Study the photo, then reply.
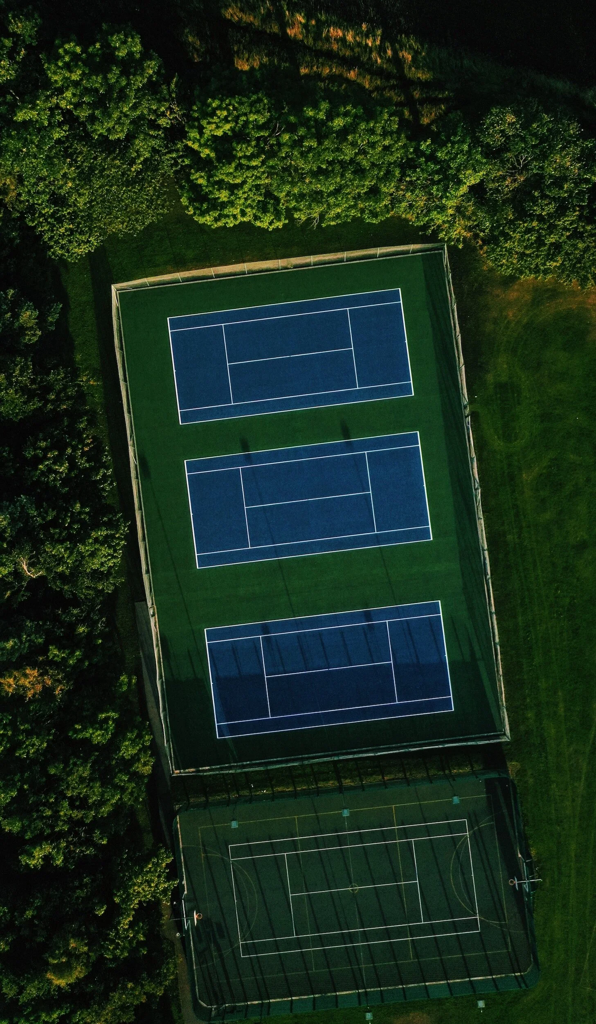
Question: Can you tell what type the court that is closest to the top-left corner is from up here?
tennis court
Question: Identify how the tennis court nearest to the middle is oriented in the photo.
from side to side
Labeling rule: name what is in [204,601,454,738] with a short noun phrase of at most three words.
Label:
tennis court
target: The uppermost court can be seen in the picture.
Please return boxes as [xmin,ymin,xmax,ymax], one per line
[167,288,414,425]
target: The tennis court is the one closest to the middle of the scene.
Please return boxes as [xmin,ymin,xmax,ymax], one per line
[184,431,433,569]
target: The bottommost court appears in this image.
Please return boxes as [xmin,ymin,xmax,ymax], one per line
[176,766,534,1008]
